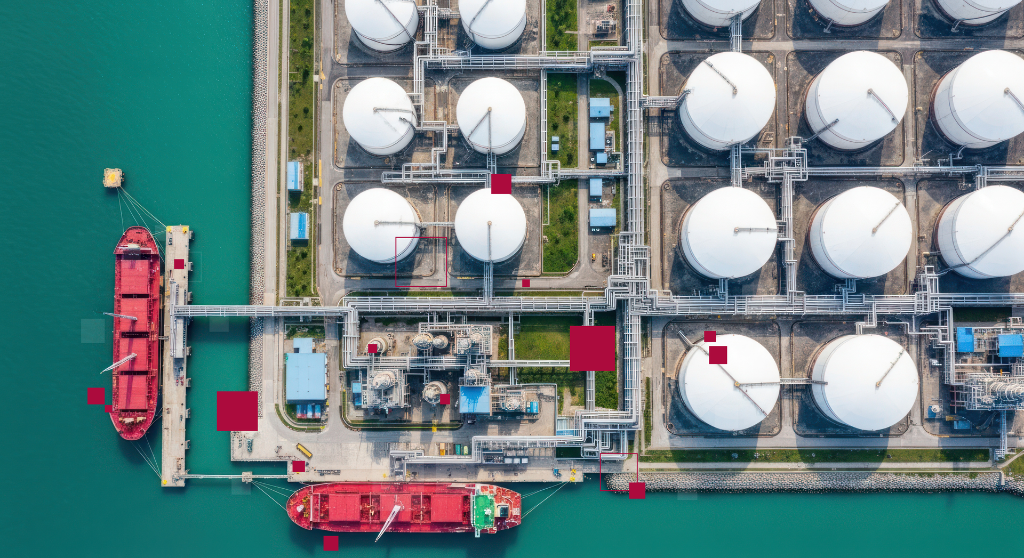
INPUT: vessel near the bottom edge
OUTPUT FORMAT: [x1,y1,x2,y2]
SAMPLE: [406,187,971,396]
[286,481,521,542]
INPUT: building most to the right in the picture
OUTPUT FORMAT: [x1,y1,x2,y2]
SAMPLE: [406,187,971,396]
[992,335,1023,357]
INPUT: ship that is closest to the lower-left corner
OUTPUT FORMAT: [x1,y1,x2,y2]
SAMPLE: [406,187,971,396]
[101,226,166,441]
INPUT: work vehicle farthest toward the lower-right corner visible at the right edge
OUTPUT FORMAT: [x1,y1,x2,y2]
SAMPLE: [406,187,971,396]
[946,413,996,429]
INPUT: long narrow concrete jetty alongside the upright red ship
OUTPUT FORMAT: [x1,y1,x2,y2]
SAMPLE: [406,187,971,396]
[161,225,191,486]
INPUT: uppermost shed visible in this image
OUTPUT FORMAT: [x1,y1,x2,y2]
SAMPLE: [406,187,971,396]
[590,98,609,118]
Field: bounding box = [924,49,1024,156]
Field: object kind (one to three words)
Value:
storage tank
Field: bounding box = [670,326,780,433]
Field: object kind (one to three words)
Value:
storage tank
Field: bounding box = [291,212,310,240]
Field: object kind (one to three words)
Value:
shed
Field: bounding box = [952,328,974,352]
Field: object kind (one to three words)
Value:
building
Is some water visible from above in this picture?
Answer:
Yes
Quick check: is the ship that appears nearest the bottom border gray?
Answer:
No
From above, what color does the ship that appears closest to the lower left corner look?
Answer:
red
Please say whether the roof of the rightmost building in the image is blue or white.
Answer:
blue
